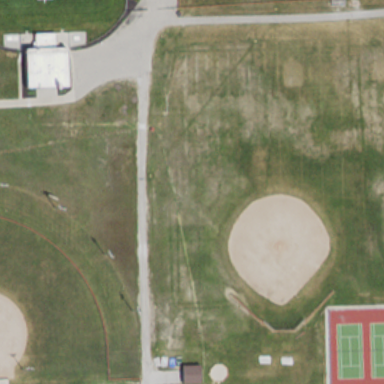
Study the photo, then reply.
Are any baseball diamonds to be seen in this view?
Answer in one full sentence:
Yes, there's a baseball diamond down there.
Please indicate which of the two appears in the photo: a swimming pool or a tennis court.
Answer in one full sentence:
The image shows a tennis court.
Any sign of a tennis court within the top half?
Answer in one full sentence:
No, there's no tennis court to be seen within the top half.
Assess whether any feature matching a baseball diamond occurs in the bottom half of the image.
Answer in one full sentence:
Yes, you'll find a baseball diamond in the bottom half of the image.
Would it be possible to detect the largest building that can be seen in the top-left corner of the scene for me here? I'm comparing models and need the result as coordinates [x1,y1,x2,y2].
[26,48,70,89]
